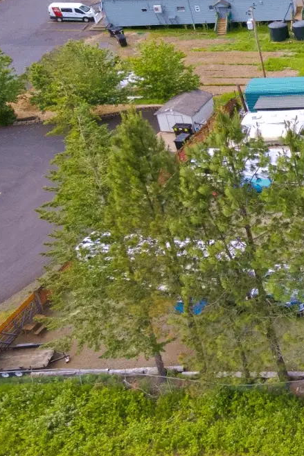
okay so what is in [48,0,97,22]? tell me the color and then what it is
white vehicle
